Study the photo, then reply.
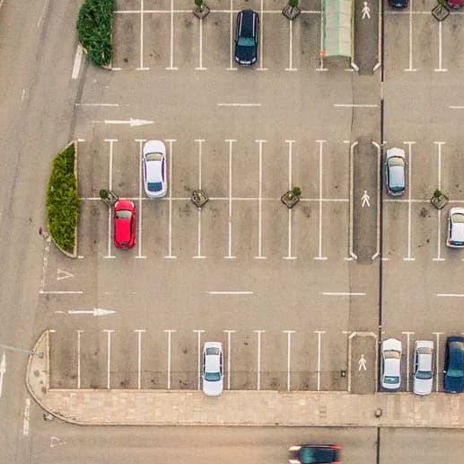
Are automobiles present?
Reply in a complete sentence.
Yes, there's an automobile here.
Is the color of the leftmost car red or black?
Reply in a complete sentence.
In this view, the leftmost car is red.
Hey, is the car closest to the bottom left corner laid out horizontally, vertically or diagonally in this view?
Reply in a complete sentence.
The car closest to the bottom left corner runs vertically in the image.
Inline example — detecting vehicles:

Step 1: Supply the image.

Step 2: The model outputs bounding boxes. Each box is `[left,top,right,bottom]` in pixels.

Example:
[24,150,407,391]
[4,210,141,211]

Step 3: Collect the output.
[443,337,464,392]
[141,141,167,198]
[411,342,436,394]
[384,149,408,196]
[380,339,403,389]
[112,202,136,248]
[446,208,464,249]
[200,342,223,395]
[234,10,258,66]
[292,443,338,464]
[388,0,410,9]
